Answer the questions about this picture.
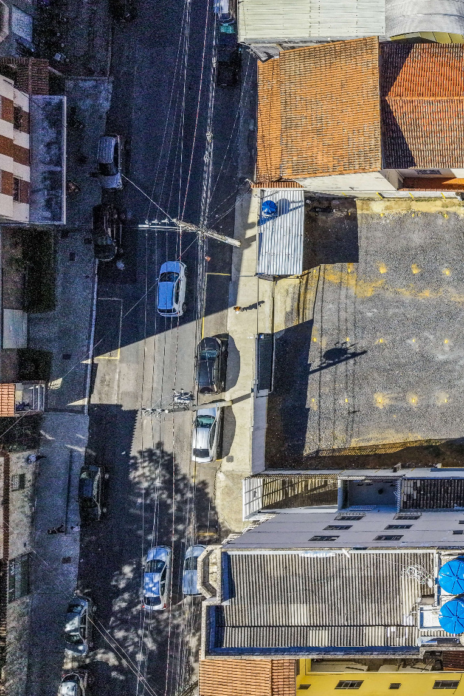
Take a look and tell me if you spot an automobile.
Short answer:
Yes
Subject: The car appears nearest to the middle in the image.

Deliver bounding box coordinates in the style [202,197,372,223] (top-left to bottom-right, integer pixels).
[200,335,230,395]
